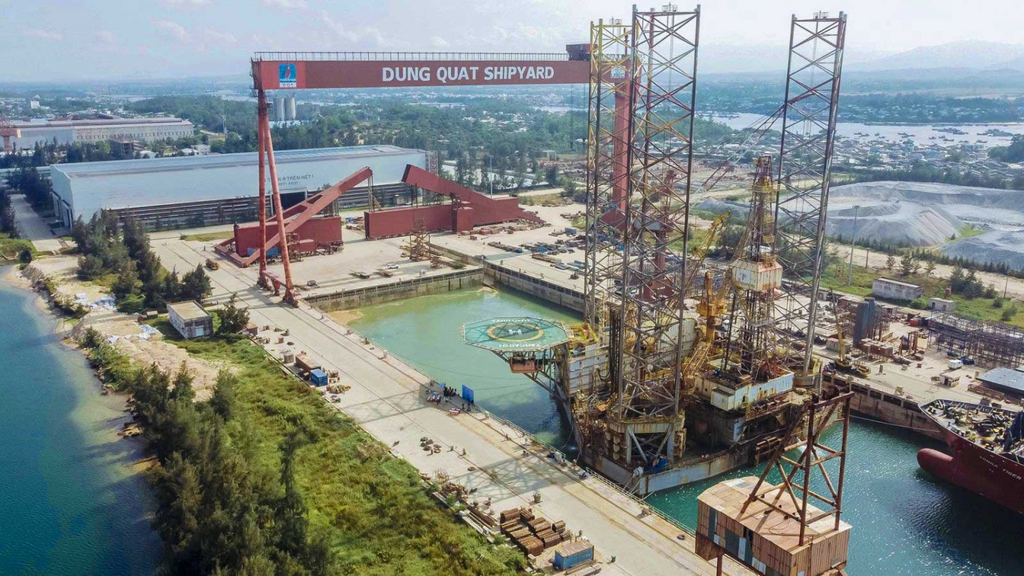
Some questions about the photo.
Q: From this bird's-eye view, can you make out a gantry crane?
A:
Yes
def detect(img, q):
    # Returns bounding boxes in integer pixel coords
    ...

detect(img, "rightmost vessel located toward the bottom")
[855,400,1024,518]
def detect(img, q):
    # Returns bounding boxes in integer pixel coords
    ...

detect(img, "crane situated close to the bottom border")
[692,372,862,576]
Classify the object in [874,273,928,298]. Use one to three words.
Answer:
building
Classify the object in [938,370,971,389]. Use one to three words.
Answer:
shed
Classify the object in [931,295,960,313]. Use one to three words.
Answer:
shed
